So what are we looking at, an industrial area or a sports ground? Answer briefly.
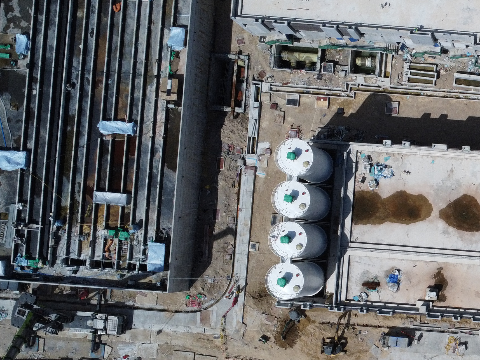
industrial area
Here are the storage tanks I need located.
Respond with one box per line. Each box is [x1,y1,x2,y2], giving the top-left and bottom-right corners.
[265,221,326,263]
[271,138,332,181]
[268,181,329,221]
[261,260,323,304]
